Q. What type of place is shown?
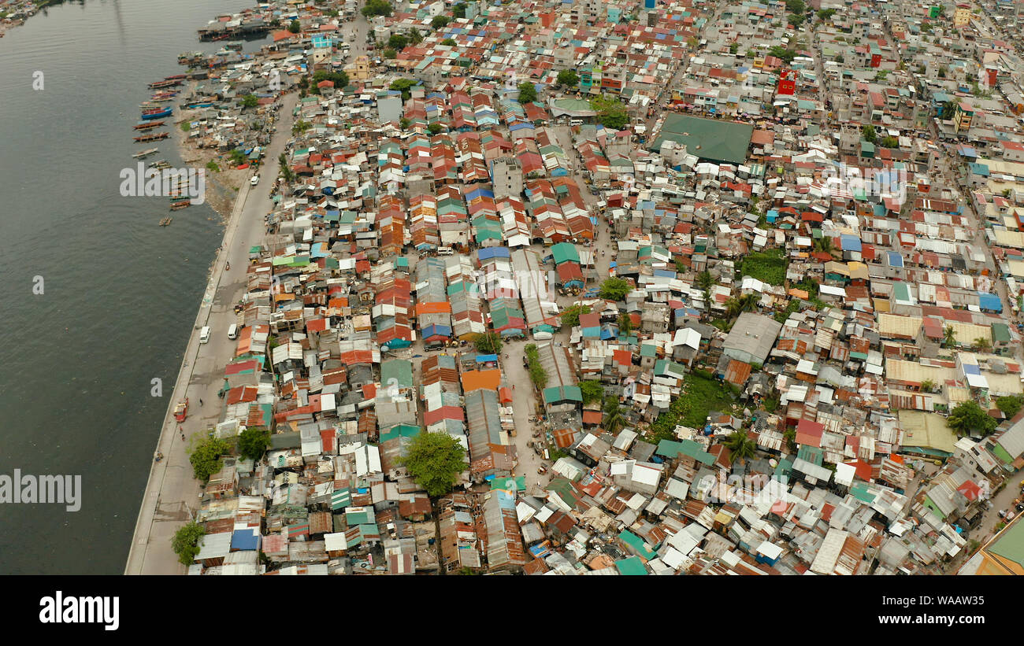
residential area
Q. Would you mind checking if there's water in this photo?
Yes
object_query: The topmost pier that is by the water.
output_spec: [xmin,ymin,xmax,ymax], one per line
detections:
[197,17,268,43]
